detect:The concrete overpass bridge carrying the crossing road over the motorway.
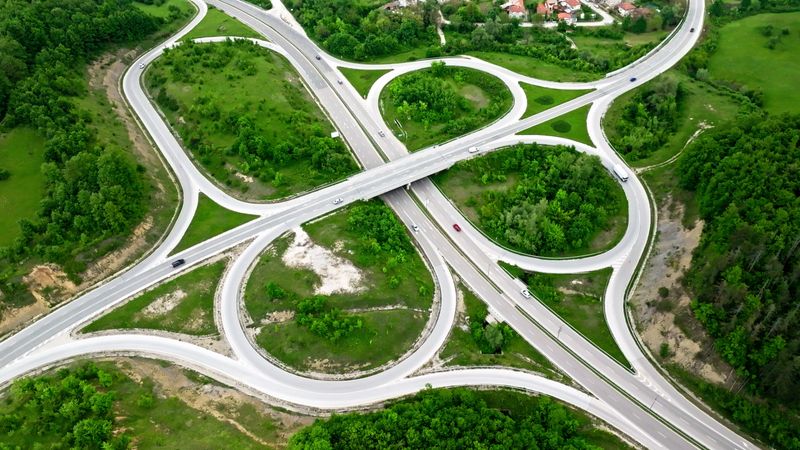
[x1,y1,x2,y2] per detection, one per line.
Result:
[344,140,452,208]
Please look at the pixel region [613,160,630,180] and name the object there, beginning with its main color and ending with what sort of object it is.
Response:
white vehicle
